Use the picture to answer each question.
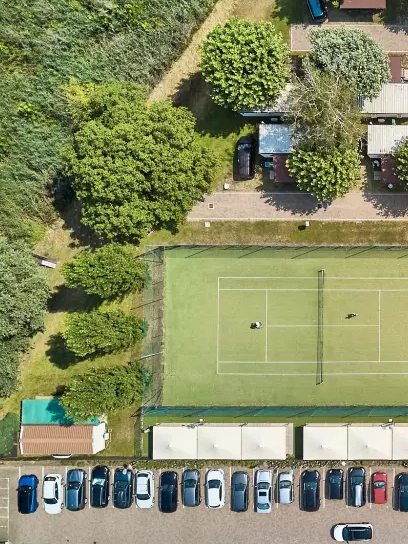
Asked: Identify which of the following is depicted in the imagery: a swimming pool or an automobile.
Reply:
automobile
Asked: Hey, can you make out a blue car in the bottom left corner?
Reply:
Yes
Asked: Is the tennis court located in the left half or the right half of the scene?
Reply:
right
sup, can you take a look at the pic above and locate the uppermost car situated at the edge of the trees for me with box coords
[306,0,327,22]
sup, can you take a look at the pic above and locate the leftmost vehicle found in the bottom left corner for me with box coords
[17,474,40,514]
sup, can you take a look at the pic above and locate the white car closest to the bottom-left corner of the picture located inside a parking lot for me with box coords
[41,475,64,514]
